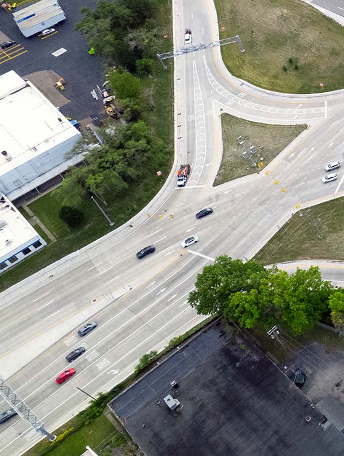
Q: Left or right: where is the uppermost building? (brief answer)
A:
left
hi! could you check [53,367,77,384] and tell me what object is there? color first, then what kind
red car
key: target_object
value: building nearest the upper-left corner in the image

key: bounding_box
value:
[0,69,100,209]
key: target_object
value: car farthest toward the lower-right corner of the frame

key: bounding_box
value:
[181,235,200,248]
